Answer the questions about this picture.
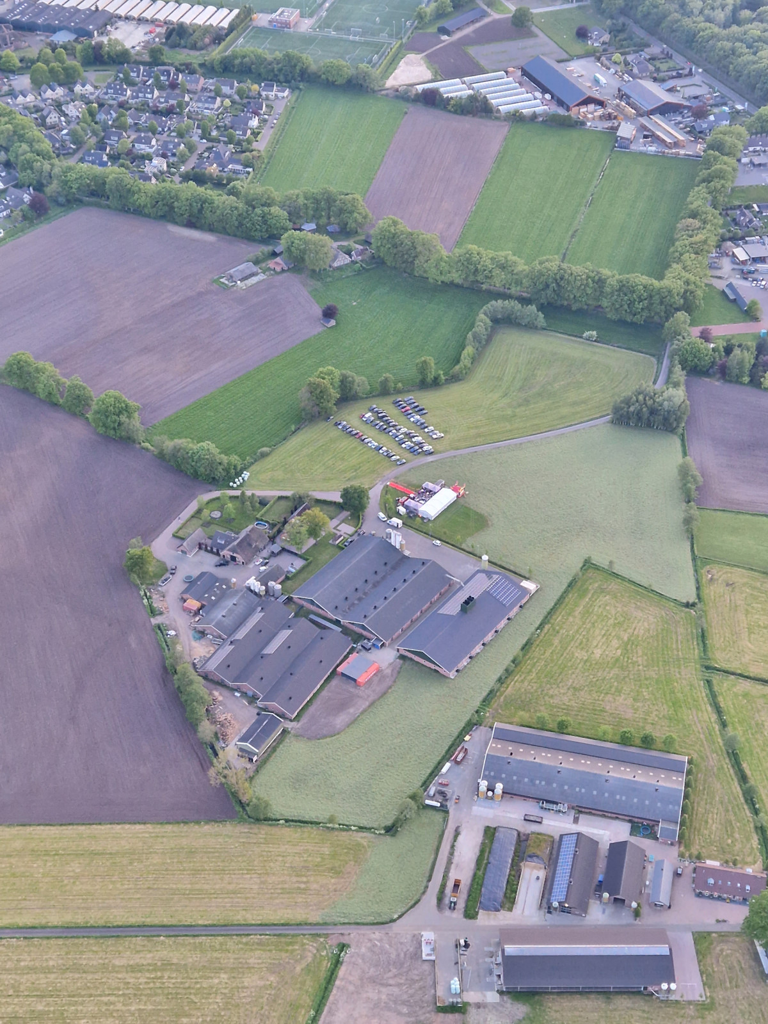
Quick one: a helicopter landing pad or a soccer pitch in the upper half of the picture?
soccer pitch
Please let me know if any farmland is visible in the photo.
Yes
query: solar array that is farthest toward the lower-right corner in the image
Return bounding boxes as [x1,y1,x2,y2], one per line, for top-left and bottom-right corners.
[551,832,578,902]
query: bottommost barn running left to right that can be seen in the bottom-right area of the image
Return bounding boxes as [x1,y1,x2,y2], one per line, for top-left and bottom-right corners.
[498,928,676,993]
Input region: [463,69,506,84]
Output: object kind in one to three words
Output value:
greenhouse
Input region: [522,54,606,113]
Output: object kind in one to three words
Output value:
building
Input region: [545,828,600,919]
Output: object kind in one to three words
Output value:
shed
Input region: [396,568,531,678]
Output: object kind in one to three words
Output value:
barn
